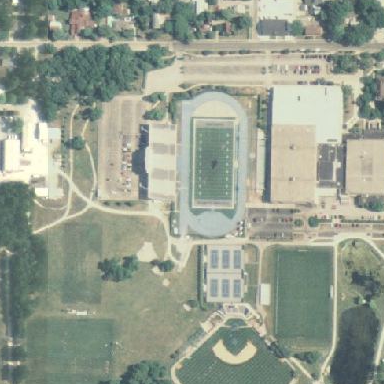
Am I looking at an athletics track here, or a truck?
athletics track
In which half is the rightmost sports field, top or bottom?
bottom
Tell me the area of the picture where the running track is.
center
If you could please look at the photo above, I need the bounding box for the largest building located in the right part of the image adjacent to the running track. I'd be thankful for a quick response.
[271,85,343,204]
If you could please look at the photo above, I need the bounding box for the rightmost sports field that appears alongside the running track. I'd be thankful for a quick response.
[272,246,334,348]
